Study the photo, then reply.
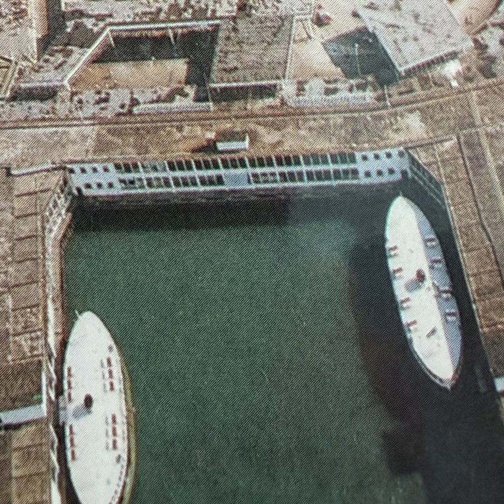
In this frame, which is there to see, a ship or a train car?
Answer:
ship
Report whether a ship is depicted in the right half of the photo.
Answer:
Yes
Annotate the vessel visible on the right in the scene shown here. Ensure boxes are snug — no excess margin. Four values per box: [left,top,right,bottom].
[386,202,471,401]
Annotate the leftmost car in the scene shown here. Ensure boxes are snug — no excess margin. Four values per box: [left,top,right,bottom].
[314,10,333,31]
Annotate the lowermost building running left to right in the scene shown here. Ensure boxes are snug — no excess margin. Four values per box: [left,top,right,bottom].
[0,73,504,212]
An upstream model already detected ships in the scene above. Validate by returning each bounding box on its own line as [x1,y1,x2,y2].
[386,202,471,401]
[64,318,137,504]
